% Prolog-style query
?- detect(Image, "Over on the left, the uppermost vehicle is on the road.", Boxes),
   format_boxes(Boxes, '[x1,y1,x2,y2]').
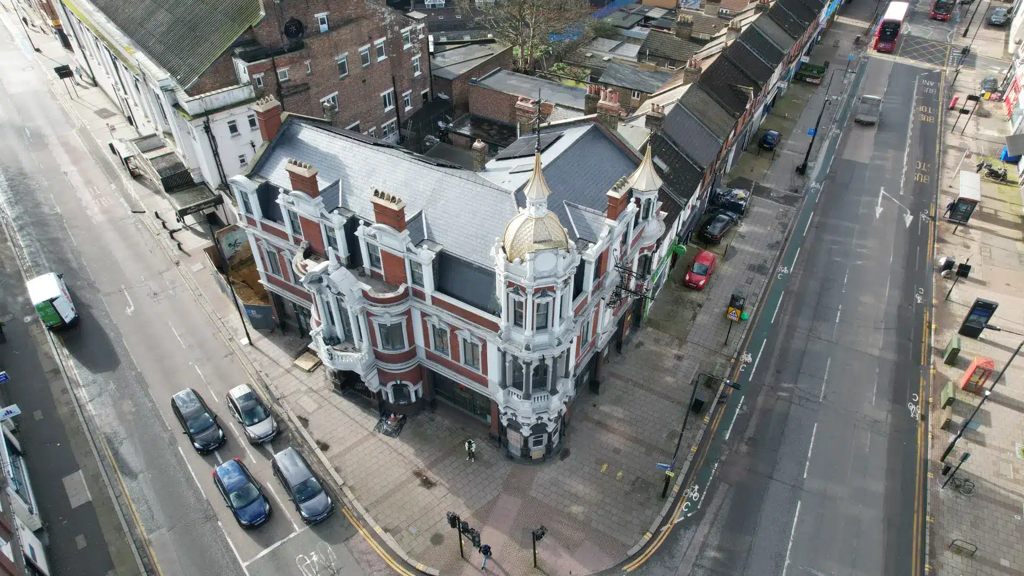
[32,277,93,341]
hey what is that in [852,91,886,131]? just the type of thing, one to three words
truck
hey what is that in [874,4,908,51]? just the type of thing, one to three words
bus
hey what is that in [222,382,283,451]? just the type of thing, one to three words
car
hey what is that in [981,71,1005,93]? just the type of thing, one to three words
car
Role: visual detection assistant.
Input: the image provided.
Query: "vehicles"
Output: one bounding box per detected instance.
[928,0,953,20]
[758,130,784,152]
[852,91,886,131]
[222,382,283,451]
[166,385,229,461]
[206,452,274,536]
[982,158,1009,176]
[685,247,718,287]
[32,277,93,341]
[874,4,908,51]
[981,71,1005,93]
[266,447,337,530]
[699,209,740,244]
